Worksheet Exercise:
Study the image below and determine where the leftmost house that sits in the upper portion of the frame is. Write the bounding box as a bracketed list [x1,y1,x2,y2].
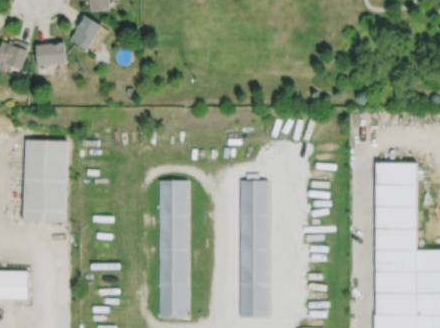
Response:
[0,38,27,71]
